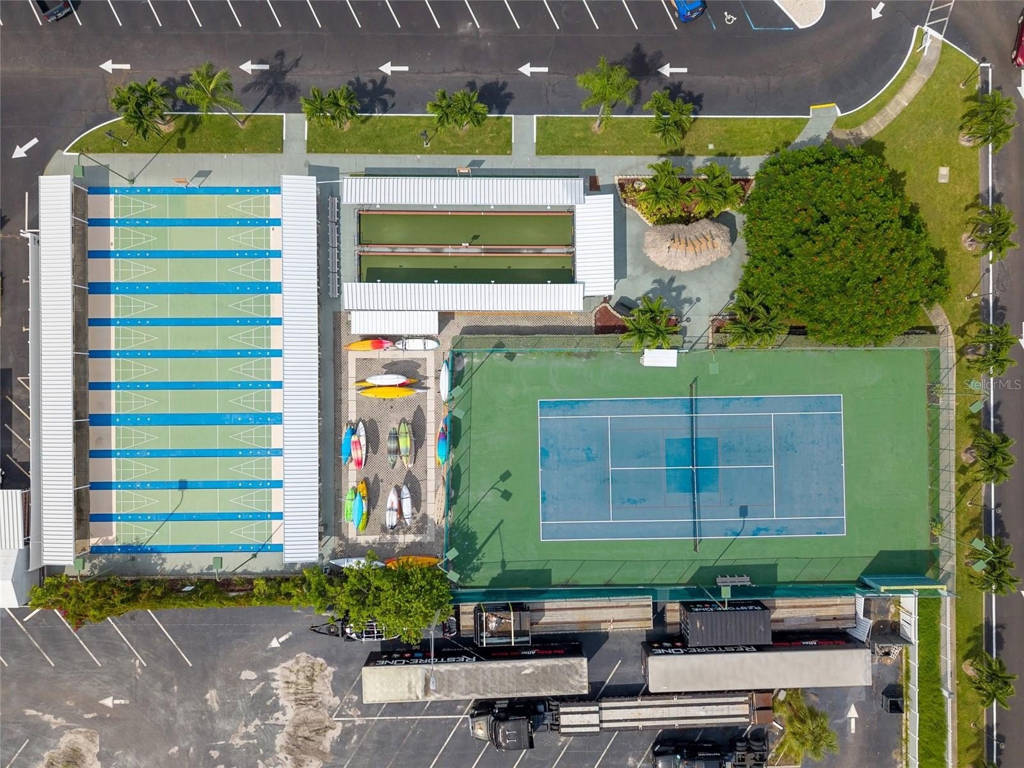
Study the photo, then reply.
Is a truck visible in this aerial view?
Yes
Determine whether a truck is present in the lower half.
Yes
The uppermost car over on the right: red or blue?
blue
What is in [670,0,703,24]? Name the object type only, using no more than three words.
car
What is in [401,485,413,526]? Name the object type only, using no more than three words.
boat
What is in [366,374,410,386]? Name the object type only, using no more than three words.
boat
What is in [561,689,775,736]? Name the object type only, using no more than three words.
trailer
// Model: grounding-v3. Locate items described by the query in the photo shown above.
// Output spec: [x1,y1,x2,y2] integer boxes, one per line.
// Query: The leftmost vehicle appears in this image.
[36,0,71,24]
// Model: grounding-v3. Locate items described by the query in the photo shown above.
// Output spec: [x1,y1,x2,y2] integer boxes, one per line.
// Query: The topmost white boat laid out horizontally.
[395,338,439,351]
